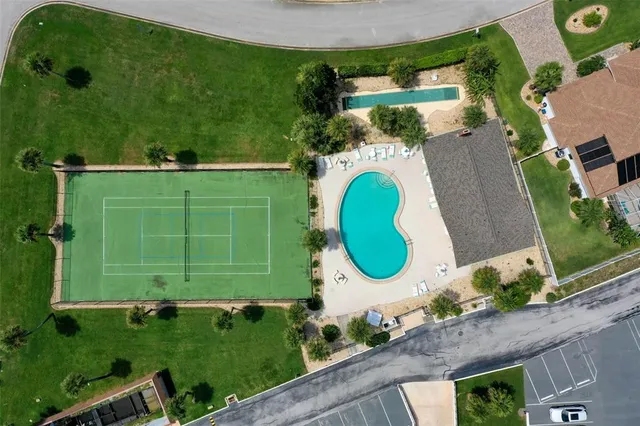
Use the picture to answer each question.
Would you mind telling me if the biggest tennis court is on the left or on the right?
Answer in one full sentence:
You can find the biggest tennis court on the left side of the picture.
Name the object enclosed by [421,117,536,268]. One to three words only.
building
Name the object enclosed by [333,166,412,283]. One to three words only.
swimming pool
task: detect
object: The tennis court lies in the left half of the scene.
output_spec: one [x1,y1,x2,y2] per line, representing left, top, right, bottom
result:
[62,171,312,302]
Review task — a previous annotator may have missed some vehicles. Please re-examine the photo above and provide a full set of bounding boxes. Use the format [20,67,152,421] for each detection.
[549,404,586,422]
